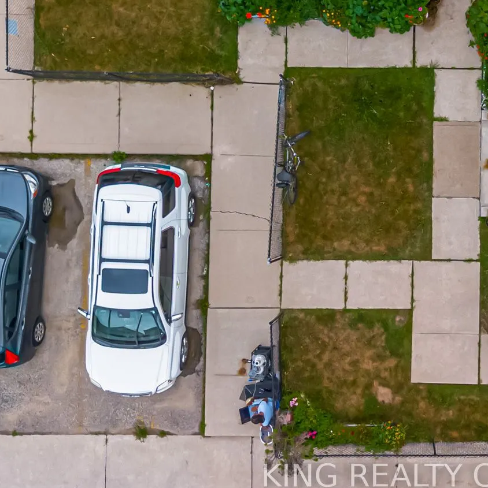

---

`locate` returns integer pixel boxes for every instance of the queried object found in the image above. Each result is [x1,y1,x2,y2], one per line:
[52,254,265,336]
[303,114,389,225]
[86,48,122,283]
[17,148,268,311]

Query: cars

[73,163,200,400]
[0,163,55,369]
